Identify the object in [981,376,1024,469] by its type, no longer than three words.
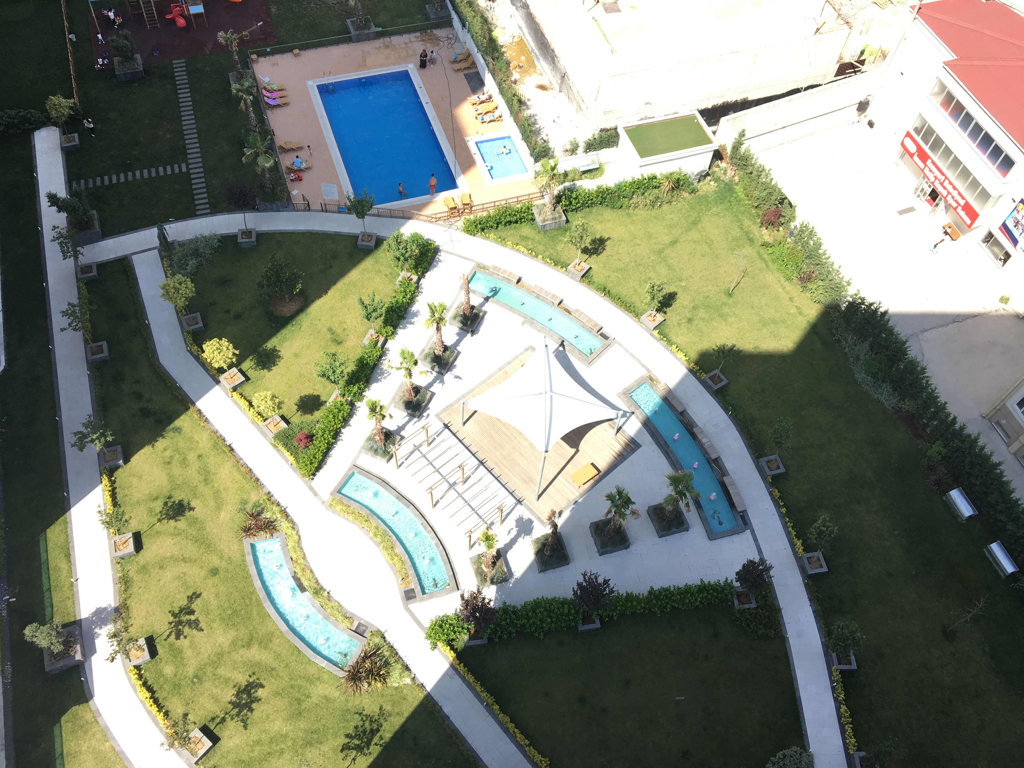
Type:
building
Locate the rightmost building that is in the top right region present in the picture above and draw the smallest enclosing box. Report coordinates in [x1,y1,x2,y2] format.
[867,0,1024,326]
